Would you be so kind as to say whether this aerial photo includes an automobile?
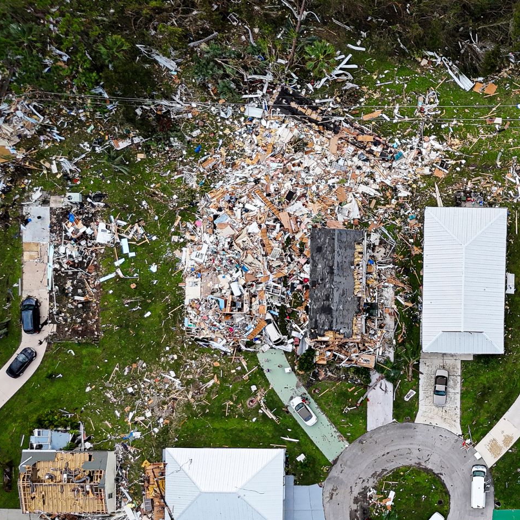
Yes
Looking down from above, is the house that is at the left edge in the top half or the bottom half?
bottom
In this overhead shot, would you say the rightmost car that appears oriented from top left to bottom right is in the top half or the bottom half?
bottom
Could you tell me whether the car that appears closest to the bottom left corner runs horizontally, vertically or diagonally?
diagonally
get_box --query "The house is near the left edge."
[18,450,117,516]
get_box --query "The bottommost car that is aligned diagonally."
[288,395,316,429]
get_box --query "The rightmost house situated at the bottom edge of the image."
[164,445,288,520]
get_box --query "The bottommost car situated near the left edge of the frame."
[3,346,34,381]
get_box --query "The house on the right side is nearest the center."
[310,229,366,357]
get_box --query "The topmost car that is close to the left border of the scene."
[18,297,39,334]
